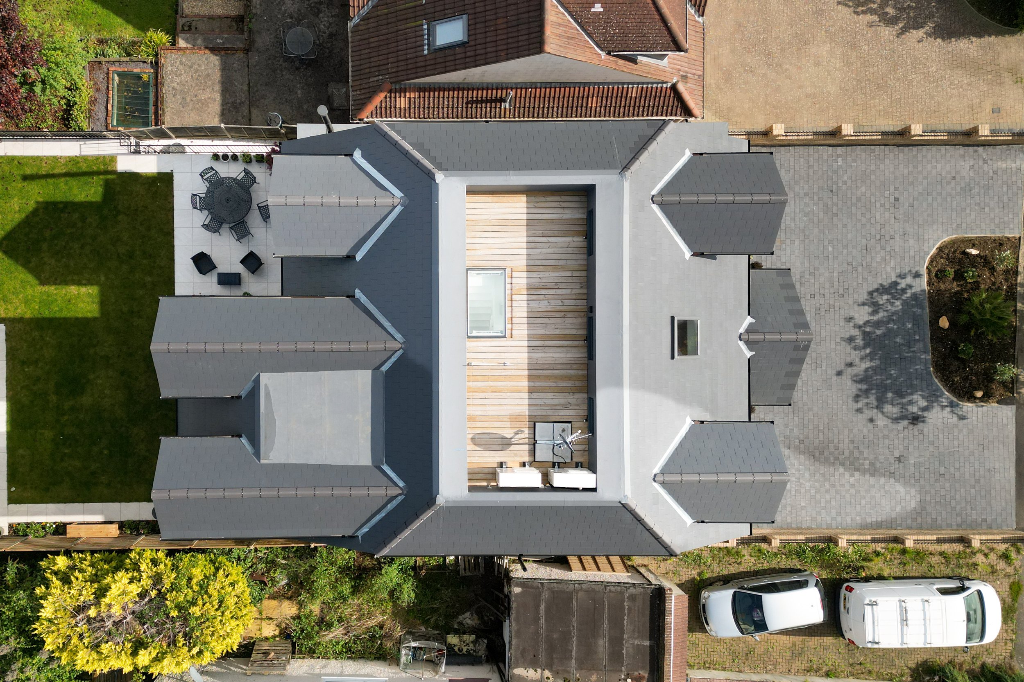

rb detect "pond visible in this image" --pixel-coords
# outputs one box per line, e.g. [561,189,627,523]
[107,66,156,129]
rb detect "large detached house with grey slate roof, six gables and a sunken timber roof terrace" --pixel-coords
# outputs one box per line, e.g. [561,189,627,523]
[149,102,814,559]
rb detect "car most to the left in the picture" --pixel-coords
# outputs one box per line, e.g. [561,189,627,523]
[696,563,829,646]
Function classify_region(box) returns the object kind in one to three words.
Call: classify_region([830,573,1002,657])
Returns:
van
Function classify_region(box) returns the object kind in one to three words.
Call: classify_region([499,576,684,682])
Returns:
building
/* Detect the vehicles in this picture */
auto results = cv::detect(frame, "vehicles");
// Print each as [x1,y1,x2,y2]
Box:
[696,563,829,646]
[830,573,1002,657]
